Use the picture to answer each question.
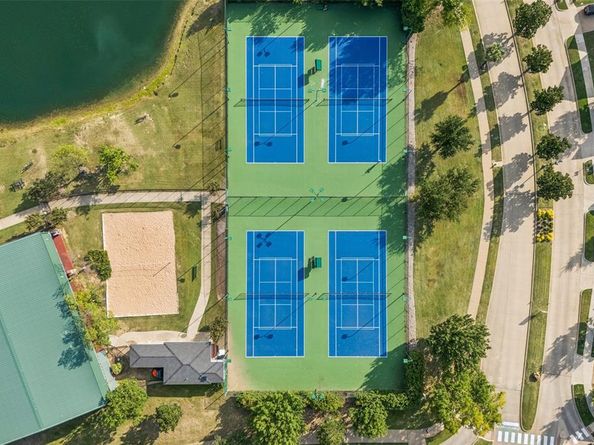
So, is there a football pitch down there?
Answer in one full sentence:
No, I can't see a single football pitch in this photo.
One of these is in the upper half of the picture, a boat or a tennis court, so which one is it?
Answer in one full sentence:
It is a tennis court that can be seen in the upper half of the picture.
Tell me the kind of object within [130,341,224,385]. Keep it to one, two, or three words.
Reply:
building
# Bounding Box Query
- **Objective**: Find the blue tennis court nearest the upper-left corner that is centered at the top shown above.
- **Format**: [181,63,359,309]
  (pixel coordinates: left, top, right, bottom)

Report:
[246,36,305,163]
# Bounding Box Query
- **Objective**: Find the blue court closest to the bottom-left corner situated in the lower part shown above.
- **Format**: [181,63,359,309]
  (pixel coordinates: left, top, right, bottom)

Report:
[246,230,305,357]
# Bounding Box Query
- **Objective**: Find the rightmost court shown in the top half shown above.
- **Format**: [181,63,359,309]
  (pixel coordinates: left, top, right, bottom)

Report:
[328,36,387,163]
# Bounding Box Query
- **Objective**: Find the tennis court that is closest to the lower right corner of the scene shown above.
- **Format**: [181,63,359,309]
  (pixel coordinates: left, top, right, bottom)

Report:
[328,230,387,357]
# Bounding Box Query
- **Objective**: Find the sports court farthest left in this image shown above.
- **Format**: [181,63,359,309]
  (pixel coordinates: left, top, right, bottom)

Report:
[102,211,178,317]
